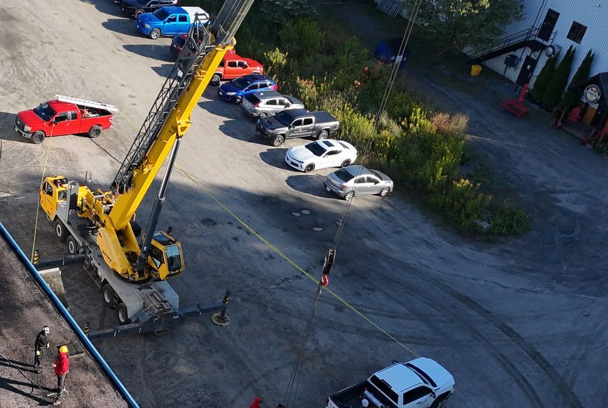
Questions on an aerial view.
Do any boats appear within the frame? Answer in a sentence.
No, no boat is visible in the view.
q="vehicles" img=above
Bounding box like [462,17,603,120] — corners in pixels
[212,47,266,84]
[249,103,341,146]
[8,93,119,143]
[238,82,307,115]
[131,2,212,39]
[280,136,362,172]
[212,70,276,104]
[320,354,459,408]
[117,0,181,14]
[319,163,397,199]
